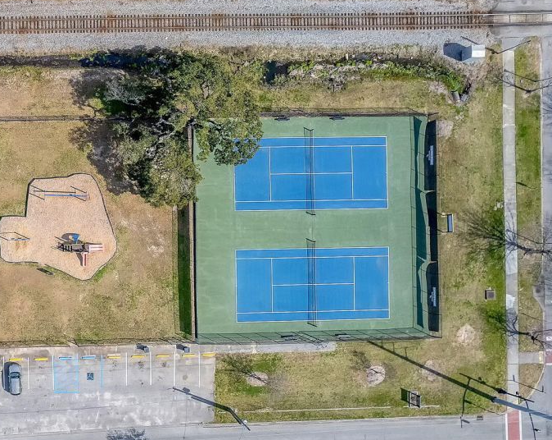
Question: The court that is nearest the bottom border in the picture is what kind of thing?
tennis court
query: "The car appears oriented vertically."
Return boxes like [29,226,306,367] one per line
[8,362,23,396]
